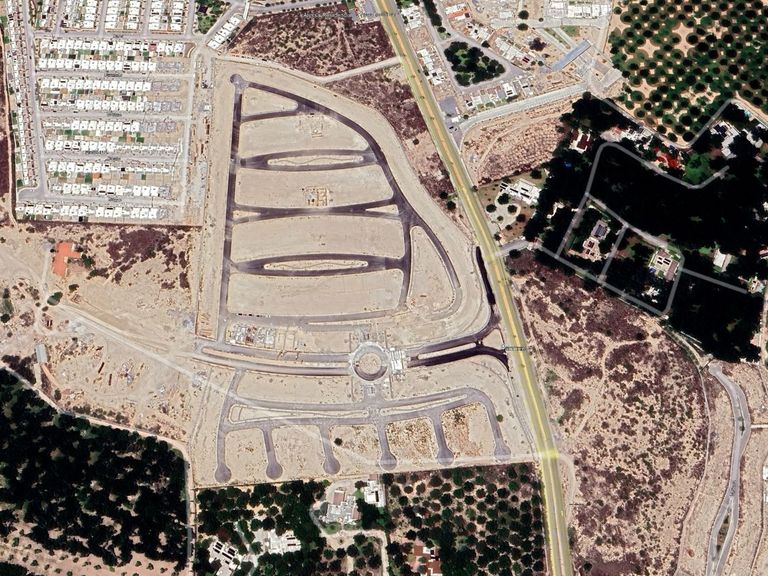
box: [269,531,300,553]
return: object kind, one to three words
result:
house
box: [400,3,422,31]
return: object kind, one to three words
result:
house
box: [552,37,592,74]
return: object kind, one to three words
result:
building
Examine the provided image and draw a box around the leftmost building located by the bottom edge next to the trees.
[209,541,240,572]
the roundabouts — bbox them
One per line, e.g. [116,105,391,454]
[351,344,390,383]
